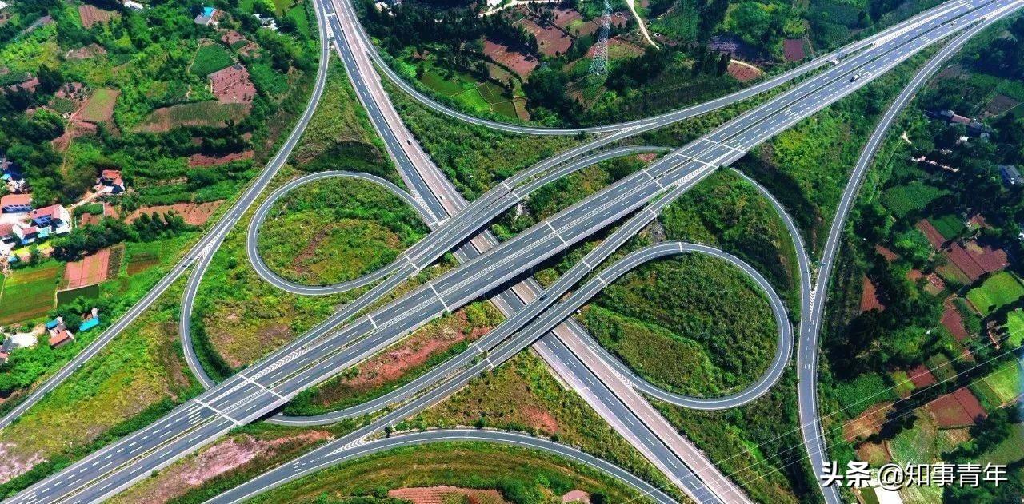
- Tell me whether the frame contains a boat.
No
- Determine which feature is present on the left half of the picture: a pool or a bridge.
bridge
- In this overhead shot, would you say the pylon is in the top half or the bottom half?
top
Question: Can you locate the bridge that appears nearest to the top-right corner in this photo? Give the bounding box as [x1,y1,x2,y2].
[678,130,744,170]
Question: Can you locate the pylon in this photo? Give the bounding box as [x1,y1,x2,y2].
[587,0,619,82]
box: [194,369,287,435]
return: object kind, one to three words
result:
bridge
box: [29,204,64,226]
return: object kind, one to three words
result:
house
